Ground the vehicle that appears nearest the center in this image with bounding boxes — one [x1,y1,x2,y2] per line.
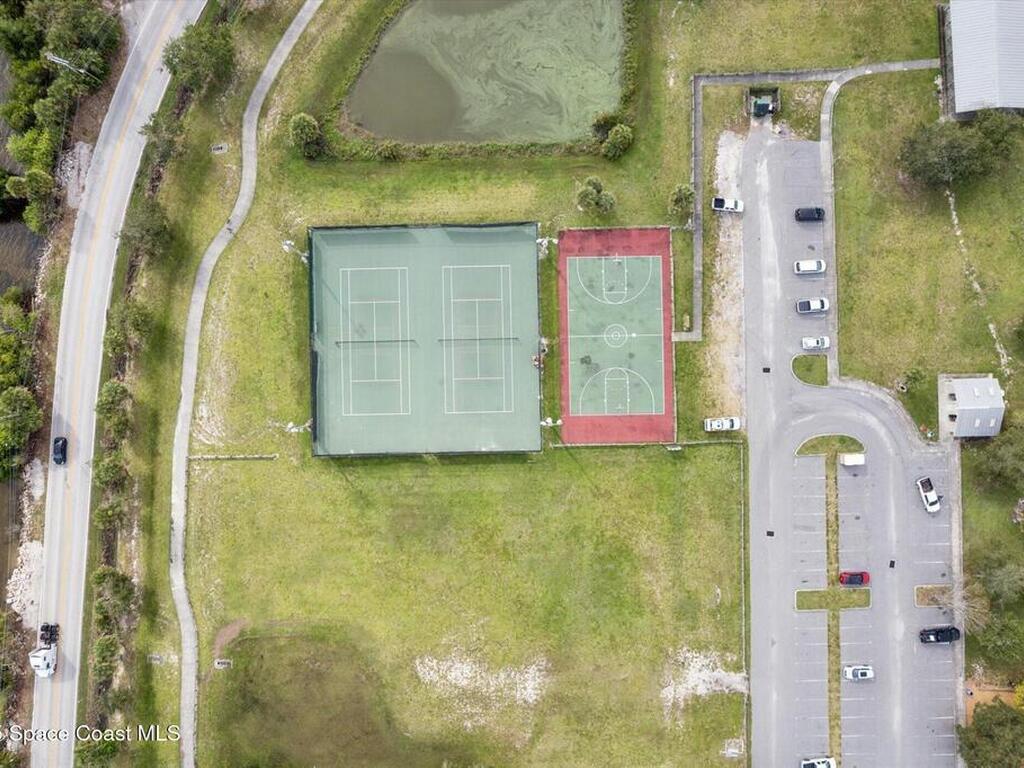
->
[704,417,740,432]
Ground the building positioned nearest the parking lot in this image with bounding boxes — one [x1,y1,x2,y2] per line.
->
[947,378,1004,436]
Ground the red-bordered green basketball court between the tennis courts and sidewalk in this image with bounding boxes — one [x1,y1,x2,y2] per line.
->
[558,228,675,445]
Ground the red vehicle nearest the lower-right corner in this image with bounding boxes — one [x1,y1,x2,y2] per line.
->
[839,572,869,586]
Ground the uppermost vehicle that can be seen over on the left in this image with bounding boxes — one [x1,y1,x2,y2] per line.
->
[52,436,69,464]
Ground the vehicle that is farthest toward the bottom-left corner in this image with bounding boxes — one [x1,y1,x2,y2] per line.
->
[30,624,61,677]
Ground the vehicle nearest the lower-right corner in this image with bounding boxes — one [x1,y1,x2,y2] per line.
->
[919,627,957,644]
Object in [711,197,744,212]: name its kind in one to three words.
vehicle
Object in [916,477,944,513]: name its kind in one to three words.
truck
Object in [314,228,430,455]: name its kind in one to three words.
tennis court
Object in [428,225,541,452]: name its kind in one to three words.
tennis court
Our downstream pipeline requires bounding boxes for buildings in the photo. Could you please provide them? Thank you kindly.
[947,378,1004,436]
[938,0,1024,118]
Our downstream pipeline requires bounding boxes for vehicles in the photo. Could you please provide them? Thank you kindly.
[795,297,829,312]
[843,665,873,680]
[52,436,69,464]
[839,572,869,586]
[801,336,830,350]
[30,624,61,677]
[919,627,957,644]
[704,417,740,432]
[793,259,825,274]
[916,477,944,513]
[711,197,744,212]
[794,206,824,221]
[800,757,835,768]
